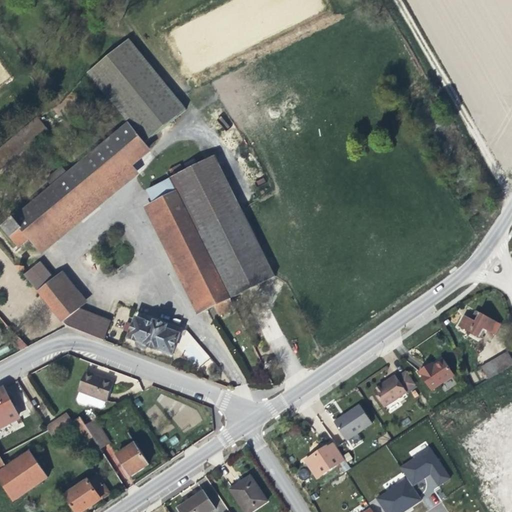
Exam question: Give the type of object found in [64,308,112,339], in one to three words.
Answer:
shed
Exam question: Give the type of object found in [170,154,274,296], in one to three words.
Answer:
barn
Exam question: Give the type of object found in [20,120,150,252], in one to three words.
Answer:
building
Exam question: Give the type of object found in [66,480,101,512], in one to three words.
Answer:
house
